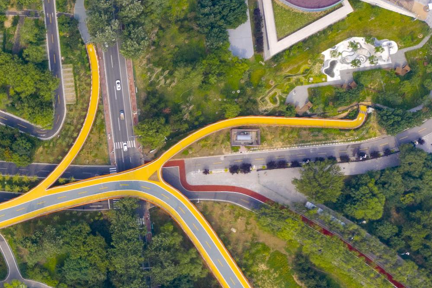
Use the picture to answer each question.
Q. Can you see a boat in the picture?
No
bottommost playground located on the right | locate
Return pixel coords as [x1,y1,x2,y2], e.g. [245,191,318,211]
[321,37,398,82]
